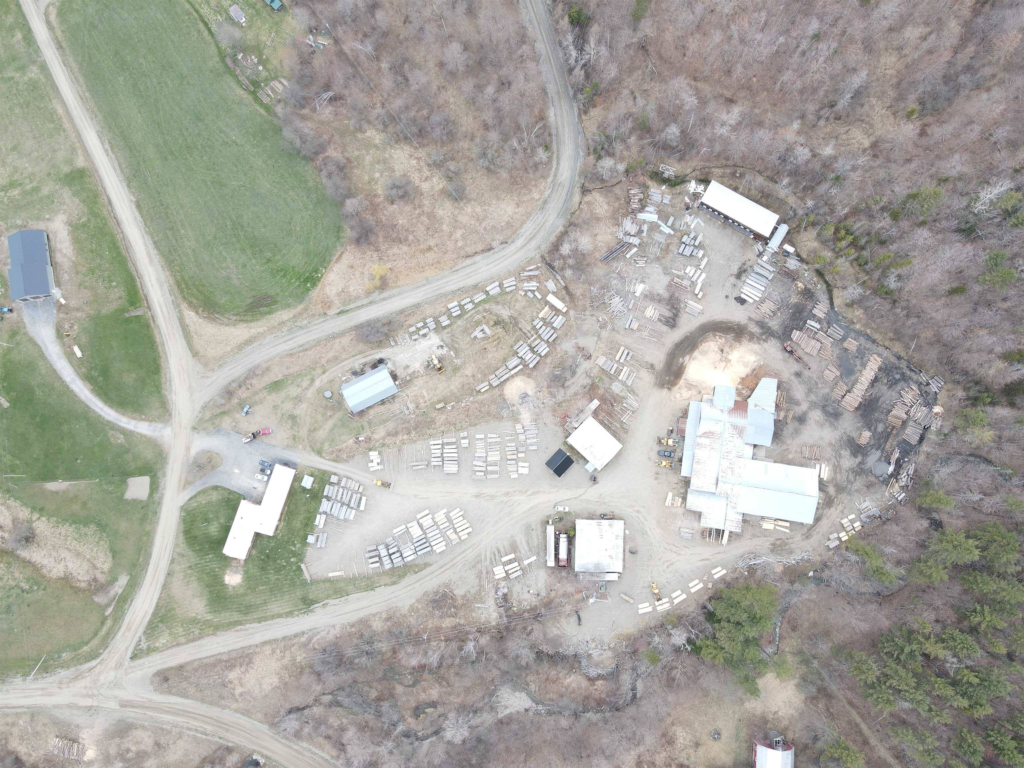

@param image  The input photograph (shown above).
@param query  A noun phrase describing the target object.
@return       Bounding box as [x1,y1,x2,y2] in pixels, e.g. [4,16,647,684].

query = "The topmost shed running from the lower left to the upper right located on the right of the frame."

[766,224,789,251]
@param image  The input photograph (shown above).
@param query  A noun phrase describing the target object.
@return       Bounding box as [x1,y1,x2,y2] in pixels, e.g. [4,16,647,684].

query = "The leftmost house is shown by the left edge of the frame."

[7,231,55,301]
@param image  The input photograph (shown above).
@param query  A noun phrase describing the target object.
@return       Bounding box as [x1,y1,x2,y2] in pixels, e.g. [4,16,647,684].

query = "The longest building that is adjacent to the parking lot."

[223,464,297,560]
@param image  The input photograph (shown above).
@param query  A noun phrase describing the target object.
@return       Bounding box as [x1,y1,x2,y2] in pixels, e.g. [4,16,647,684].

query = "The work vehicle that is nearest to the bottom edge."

[650,583,663,605]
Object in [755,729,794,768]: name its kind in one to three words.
barn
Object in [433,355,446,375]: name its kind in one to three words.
vehicle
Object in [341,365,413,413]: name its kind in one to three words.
building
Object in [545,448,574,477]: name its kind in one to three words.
building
